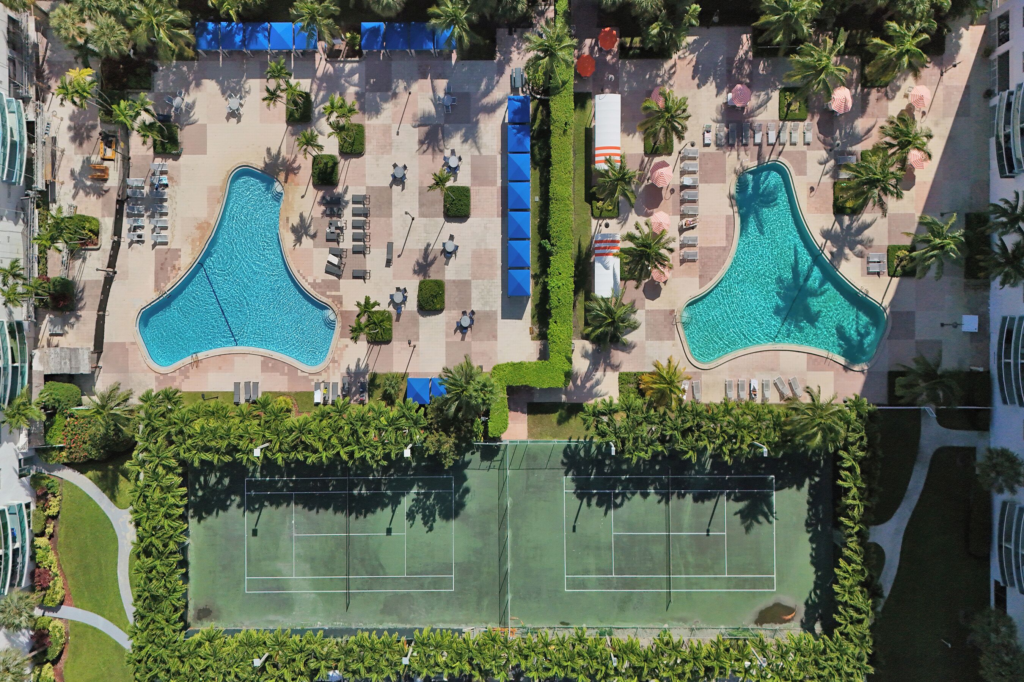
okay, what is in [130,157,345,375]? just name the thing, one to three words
swimming pool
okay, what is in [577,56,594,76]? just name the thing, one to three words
umbrella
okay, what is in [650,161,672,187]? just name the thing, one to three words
umbrella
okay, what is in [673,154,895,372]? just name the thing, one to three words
swimming pool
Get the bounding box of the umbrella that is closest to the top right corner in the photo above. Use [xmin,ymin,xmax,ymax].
[907,85,929,109]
